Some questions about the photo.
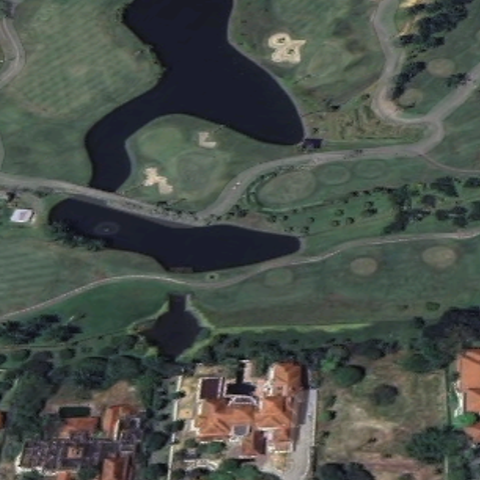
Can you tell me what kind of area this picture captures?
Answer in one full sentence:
What you see here is a golf course.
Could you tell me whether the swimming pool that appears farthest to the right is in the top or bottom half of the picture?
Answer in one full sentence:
The swimming pool that appears farthest to the right is in the bottom half of the image.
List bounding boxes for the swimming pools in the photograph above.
[56,404,94,419]
[226,366,258,396]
